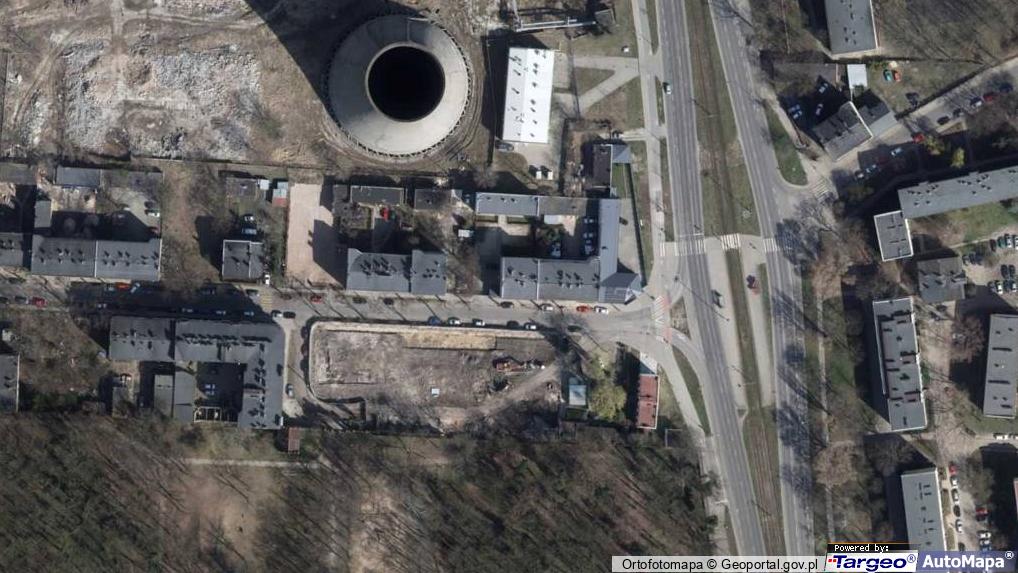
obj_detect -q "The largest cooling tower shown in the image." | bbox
[322,10,473,162]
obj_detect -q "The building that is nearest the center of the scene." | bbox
[500,257,539,299]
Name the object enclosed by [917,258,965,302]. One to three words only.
house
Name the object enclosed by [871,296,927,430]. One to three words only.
building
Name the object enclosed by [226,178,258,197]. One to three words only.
shed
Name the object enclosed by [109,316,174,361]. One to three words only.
house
